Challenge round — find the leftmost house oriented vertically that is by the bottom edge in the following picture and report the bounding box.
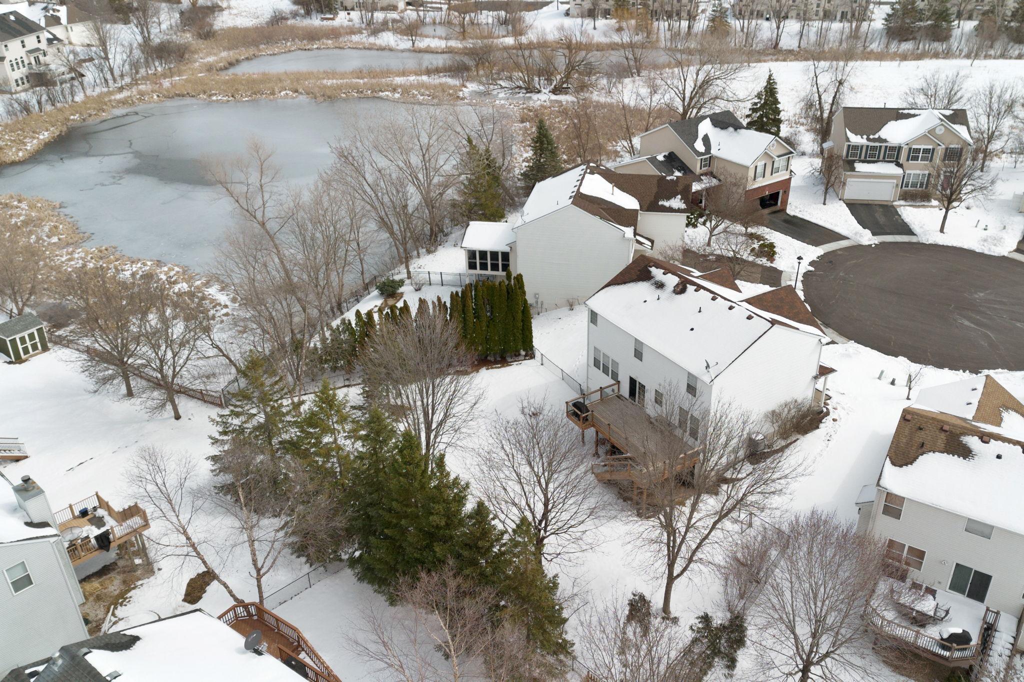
[0,471,90,682]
